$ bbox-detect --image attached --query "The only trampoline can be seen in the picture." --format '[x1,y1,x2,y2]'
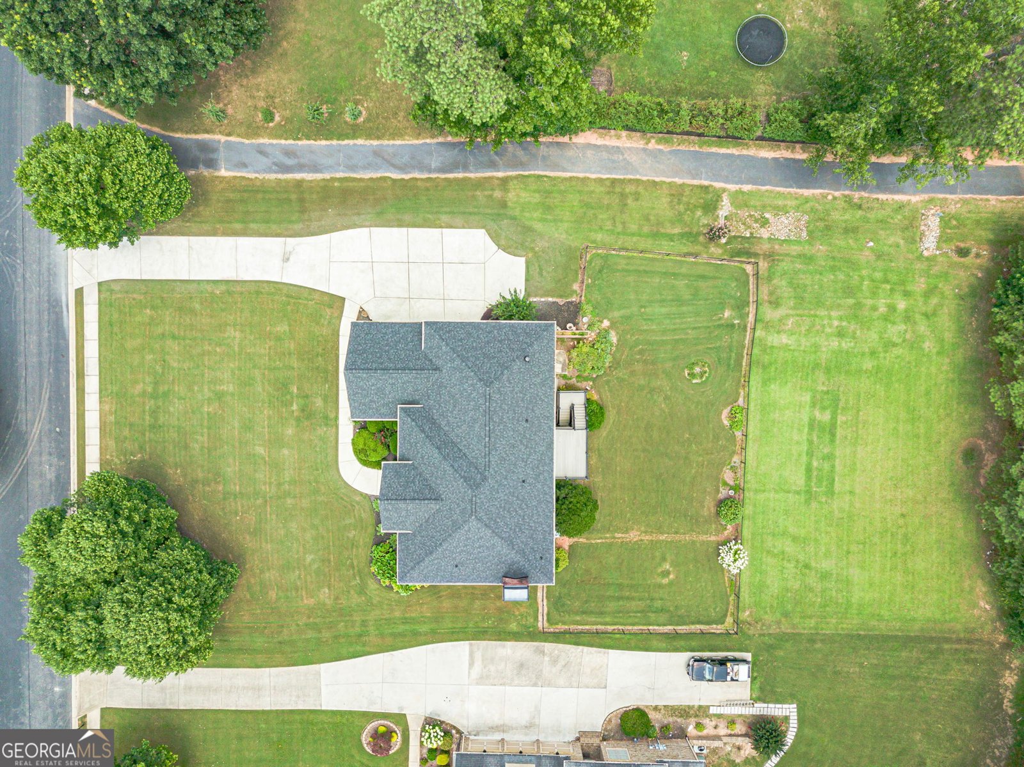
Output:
[736,15,787,70]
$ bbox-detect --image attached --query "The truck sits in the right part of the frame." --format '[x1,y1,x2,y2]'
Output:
[685,655,748,687]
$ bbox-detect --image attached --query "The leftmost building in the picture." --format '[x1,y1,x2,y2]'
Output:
[343,320,556,601]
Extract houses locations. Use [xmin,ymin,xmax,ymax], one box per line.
[343,320,556,601]
[451,734,706,767]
